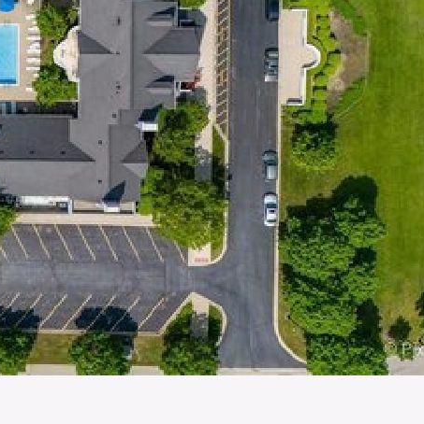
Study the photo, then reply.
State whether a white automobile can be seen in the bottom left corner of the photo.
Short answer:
No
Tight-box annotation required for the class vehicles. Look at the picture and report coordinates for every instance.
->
[262,193,278,227]
[262,48,278,82]
[263,0,280,21]
[261,149,278,180]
